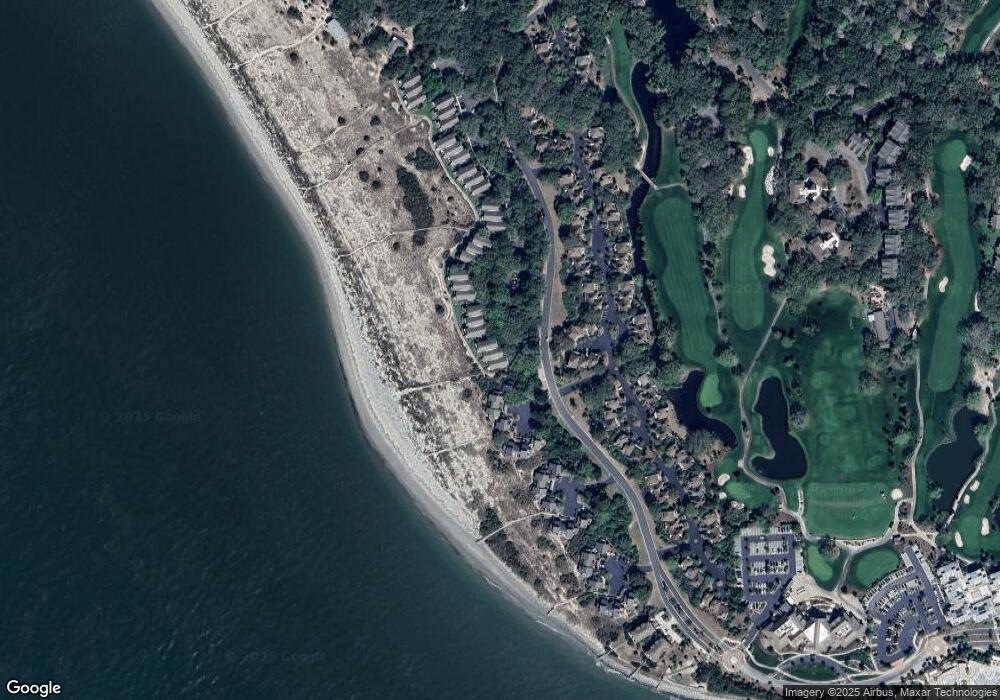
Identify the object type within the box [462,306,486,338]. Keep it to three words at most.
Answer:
house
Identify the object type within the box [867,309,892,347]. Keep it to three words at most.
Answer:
building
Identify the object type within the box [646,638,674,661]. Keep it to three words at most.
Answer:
building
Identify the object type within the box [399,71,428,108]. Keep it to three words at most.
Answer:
house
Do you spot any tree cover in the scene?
Yes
